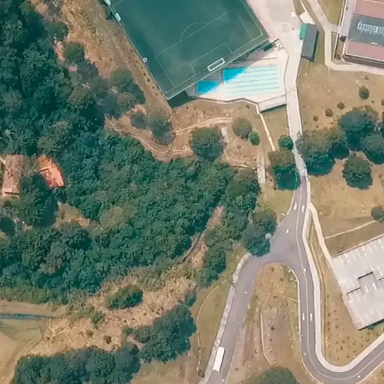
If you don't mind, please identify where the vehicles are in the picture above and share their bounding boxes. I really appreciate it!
[211,345,224,373]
